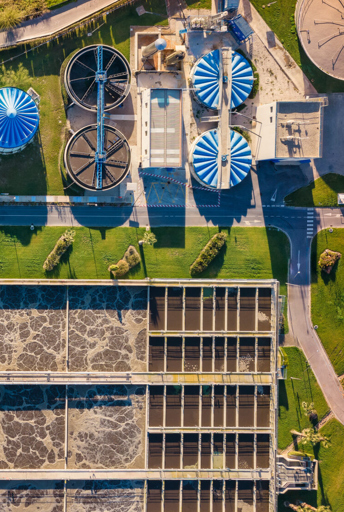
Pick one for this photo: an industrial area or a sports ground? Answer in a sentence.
It's an industrial area.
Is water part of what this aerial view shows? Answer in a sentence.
Yes, water shows up in the scene.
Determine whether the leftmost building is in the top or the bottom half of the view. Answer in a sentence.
The top half of the photo is where the leftmost building is.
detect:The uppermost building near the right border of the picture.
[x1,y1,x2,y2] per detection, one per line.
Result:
[256,97,330,166]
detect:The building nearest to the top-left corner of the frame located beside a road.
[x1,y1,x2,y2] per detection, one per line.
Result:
[140,88,200,172]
